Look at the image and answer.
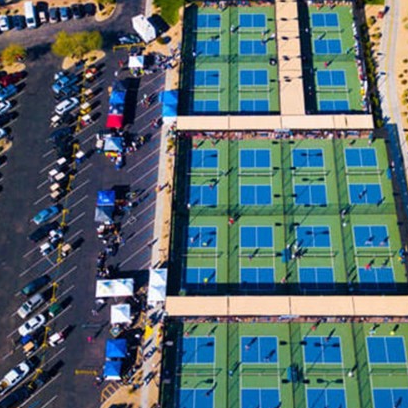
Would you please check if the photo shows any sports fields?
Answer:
Yes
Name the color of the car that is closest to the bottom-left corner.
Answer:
black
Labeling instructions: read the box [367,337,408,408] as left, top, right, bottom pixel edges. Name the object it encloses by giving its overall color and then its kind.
blue sports court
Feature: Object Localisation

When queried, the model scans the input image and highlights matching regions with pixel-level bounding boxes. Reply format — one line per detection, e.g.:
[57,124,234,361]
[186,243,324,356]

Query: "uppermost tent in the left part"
[128,16,160,52]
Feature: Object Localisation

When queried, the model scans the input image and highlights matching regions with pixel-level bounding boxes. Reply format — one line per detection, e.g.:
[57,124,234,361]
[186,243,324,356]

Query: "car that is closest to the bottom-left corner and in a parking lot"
[0,386,25,408]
